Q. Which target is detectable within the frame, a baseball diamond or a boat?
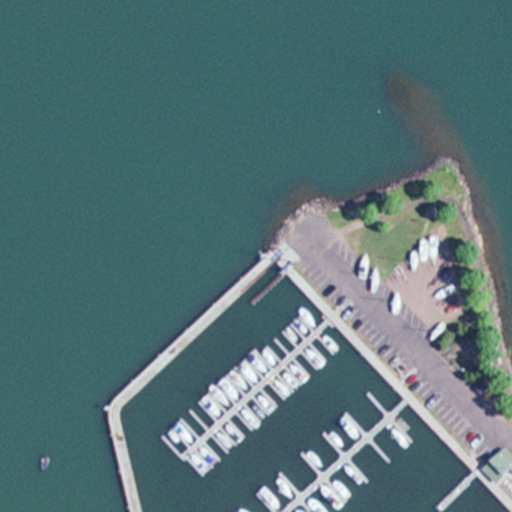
boat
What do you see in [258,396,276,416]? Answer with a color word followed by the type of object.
white boat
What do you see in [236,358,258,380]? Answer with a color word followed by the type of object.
white boat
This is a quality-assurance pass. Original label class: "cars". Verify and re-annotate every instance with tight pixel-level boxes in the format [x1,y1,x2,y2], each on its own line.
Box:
[343,304,355,316]
[390,354,402,366]
[428,394,440,406]
[324,284,336,296]
[354,316,366,327]
[412,378,423,389]
[470,437,483,450]
[334,296,345,306]
[406,372,418,384]
[380,343,392,354]
[464,434,476,444]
